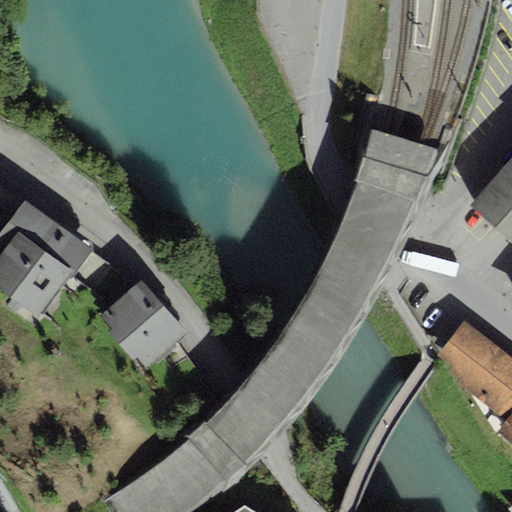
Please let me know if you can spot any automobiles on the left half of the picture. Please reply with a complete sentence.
No, on the left half of the picture there is no automobile.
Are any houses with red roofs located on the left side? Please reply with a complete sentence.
No, the scene shows no house with a red roof on the left side.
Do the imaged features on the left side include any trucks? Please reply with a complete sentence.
No, no truck is visible on the left side.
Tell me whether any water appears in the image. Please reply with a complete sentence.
Yes, there's water in this view.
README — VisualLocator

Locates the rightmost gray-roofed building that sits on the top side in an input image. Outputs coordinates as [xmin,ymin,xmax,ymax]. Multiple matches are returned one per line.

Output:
[471,157,512,231]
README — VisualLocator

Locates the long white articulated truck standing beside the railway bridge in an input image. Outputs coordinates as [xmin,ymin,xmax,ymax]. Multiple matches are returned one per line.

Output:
[401,250,460,276]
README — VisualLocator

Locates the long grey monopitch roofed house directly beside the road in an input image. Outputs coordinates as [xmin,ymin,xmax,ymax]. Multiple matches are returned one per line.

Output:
[11,201,92,274]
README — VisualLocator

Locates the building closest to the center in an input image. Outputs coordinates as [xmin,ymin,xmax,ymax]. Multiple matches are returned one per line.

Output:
[98,282,185,370]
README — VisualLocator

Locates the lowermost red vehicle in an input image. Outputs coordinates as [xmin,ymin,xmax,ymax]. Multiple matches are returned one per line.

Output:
[465,212,481,230]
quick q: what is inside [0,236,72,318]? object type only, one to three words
house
